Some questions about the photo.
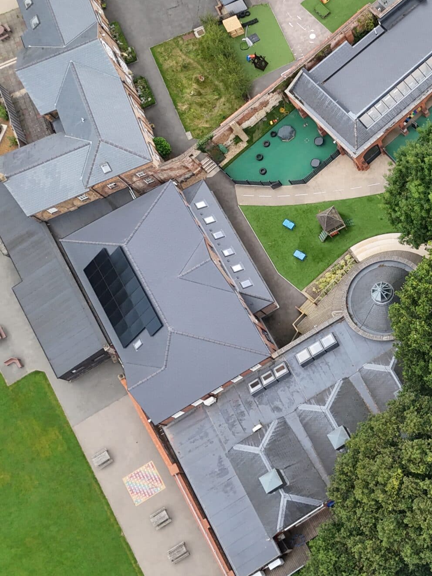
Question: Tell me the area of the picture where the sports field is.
bottom left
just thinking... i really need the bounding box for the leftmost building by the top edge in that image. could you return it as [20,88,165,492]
[0,0,162,223]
